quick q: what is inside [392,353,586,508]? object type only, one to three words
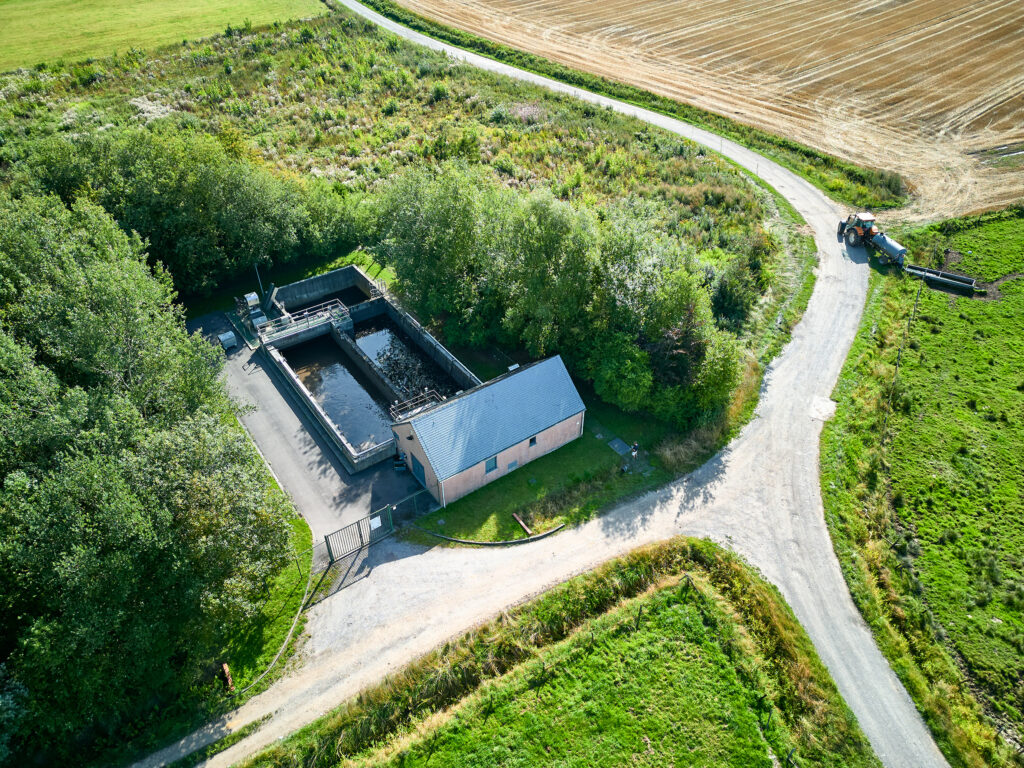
building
